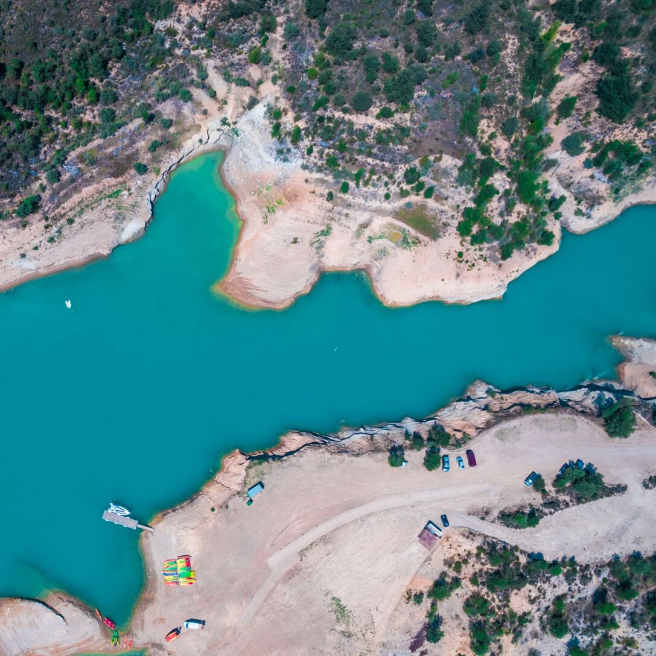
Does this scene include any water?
Yes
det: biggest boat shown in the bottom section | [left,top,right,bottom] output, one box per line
[109,504,131,516]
